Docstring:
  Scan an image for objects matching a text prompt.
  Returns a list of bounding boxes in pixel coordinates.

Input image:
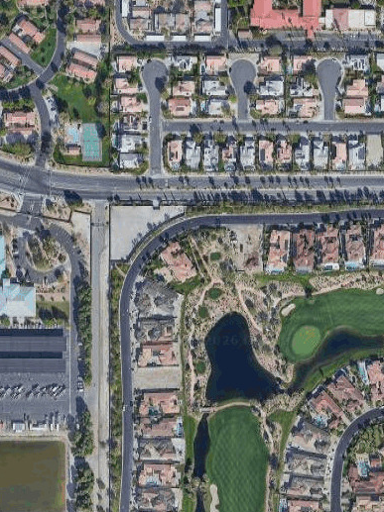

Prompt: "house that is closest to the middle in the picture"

[160,241,198,279]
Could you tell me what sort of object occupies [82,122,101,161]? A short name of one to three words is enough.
tennis court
